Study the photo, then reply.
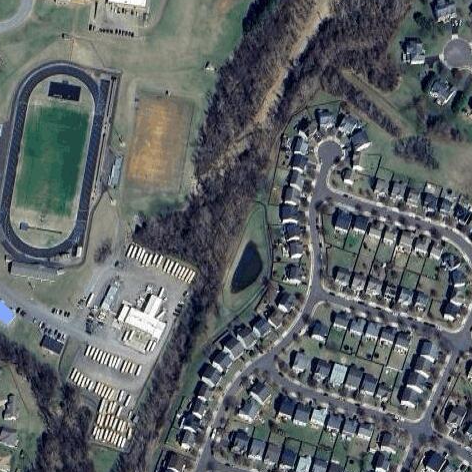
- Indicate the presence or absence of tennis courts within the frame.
No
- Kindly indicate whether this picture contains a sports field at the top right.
No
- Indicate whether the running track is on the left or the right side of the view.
left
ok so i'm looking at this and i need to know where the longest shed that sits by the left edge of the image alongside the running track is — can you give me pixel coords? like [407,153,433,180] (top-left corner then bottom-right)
[11,262,59,280]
